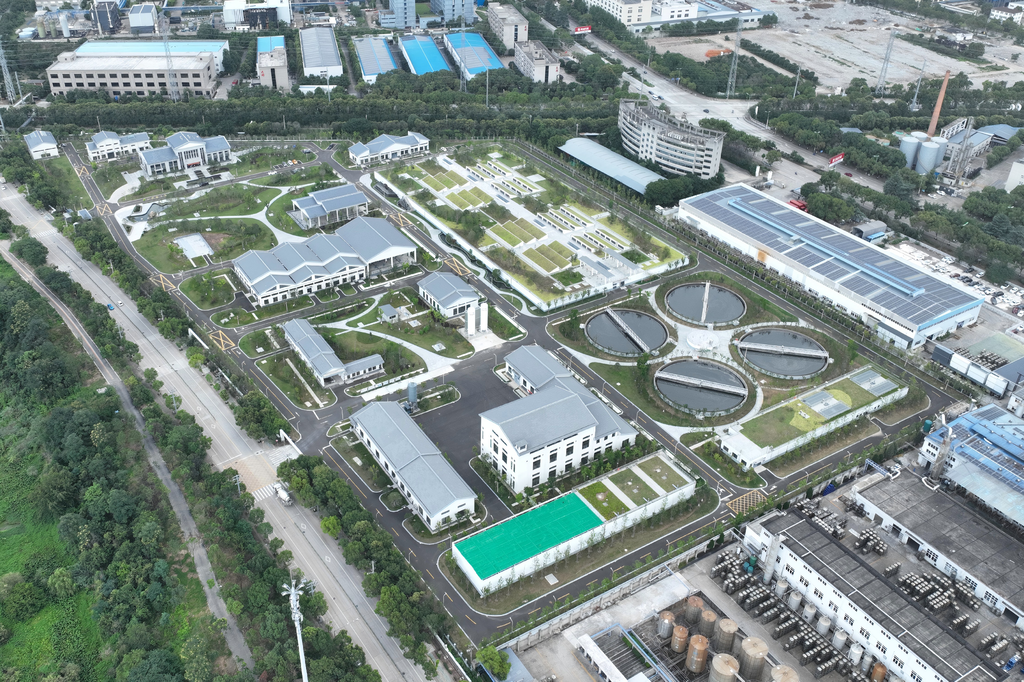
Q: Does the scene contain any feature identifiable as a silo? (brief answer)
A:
Yes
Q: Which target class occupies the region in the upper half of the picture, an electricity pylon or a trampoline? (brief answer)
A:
electricity pylon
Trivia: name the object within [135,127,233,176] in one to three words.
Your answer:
house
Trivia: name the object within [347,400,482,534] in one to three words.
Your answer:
building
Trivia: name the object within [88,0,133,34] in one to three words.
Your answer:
building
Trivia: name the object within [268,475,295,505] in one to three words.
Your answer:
truck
